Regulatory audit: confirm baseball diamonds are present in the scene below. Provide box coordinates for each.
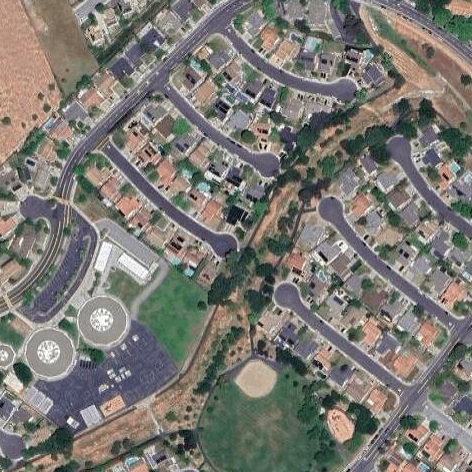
[199,355,329,472]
